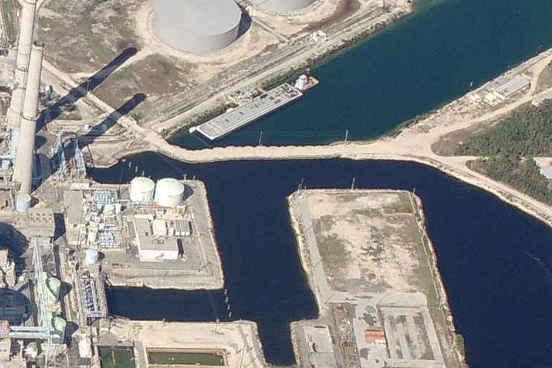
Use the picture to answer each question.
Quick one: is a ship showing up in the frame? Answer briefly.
Yes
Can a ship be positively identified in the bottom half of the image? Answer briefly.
No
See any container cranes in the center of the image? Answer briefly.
No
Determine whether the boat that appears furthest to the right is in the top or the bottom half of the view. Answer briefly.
top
